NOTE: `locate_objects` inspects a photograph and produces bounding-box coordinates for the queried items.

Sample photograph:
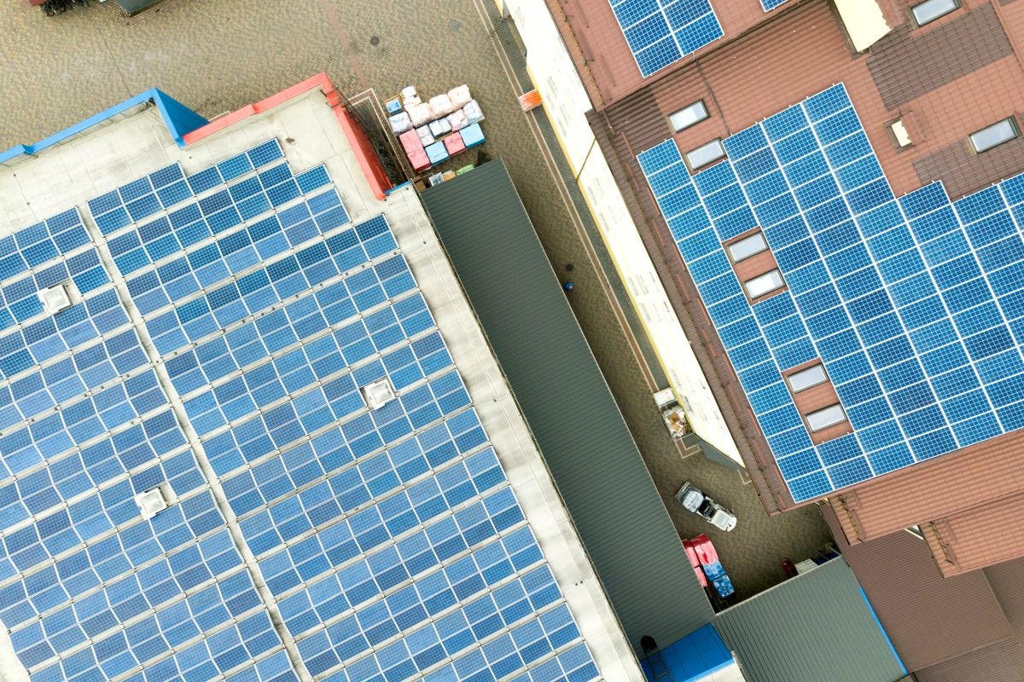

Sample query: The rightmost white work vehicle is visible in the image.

[697,496,739,532]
